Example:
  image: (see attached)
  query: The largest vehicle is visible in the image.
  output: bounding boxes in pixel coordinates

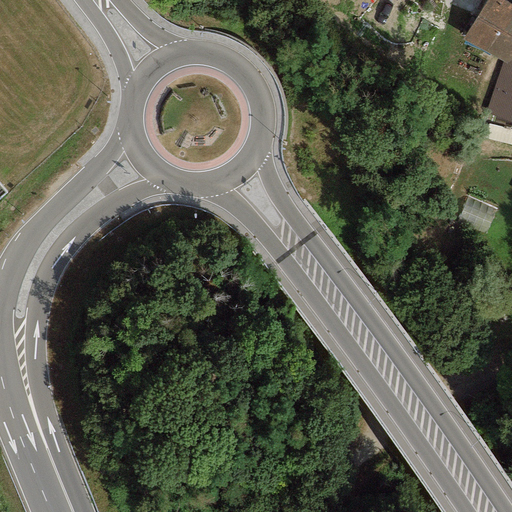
[380,2,394,22]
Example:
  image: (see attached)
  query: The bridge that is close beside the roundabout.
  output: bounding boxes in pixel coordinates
[258,198,512,512]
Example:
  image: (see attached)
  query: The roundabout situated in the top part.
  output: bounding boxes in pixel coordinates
[122,42,274,194]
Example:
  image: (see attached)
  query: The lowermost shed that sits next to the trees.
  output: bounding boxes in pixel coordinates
[460,194,498,232]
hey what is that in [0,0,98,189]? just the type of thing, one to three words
sports field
